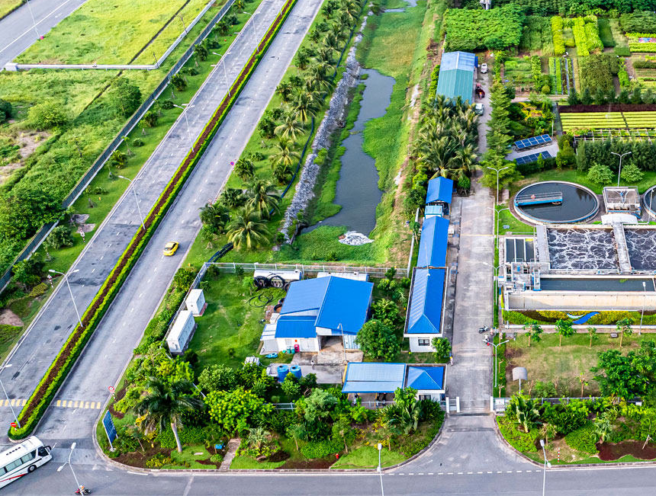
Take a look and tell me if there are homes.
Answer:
Yes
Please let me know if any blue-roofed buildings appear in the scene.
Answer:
Yes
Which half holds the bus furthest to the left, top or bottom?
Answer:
bottom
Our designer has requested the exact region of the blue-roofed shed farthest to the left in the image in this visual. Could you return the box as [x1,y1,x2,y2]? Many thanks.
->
[254,275,371,355]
